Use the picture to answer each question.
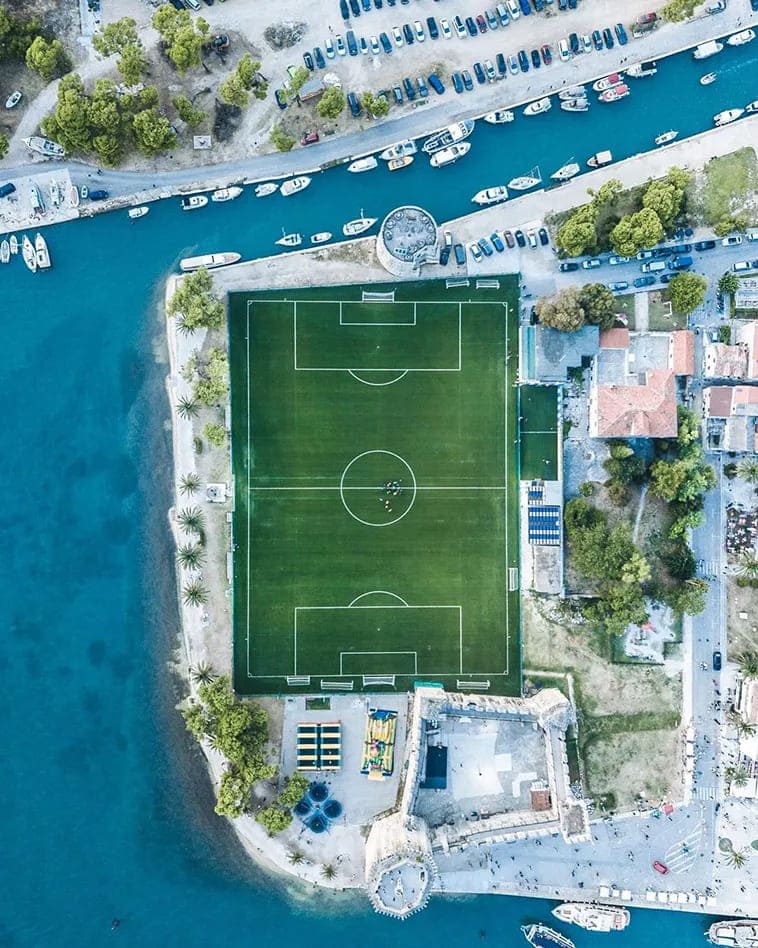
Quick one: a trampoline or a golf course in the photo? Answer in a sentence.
The image shows a trampoline.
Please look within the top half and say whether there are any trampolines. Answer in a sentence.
No, no trampoline can be made out within the top half.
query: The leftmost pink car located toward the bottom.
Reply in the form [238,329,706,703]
[652,861,669,876]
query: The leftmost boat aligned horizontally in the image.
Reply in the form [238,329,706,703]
[20,137,68,156]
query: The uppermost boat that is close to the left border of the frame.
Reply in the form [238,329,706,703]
[2,89,19,108]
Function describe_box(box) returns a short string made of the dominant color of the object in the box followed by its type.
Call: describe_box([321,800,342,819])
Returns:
blue trampoline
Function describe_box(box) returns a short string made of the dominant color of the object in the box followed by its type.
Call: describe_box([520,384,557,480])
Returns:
green sports court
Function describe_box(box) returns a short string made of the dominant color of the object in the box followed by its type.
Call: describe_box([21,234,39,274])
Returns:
white boat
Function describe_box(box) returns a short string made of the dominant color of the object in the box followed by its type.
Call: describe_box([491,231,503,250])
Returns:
blue vehicle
